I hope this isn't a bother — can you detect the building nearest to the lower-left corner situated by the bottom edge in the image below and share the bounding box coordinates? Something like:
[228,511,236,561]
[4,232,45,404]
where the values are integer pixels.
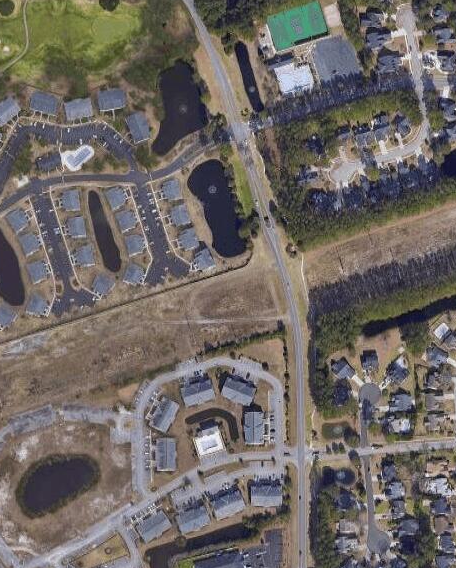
[137,512,172,545]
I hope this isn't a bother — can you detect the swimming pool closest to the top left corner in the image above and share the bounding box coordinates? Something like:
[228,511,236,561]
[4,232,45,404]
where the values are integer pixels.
[62,145,94,171]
